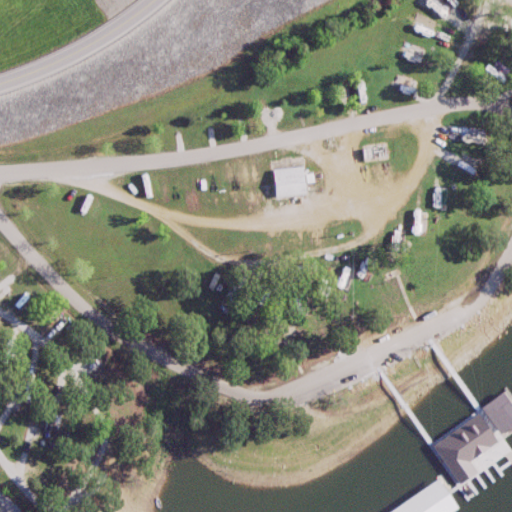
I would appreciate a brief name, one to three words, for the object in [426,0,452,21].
camper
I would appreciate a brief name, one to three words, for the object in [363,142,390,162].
building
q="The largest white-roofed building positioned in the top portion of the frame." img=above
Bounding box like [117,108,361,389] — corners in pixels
[274,166,307,200]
